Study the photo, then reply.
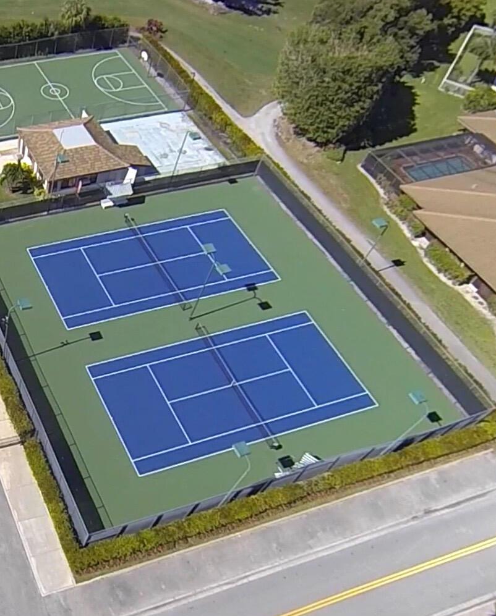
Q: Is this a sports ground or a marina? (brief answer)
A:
sports ground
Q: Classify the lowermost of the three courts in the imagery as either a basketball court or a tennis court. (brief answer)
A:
tennis court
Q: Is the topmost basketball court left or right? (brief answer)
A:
left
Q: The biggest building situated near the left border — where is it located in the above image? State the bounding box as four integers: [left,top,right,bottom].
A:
[17,116,152,195]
